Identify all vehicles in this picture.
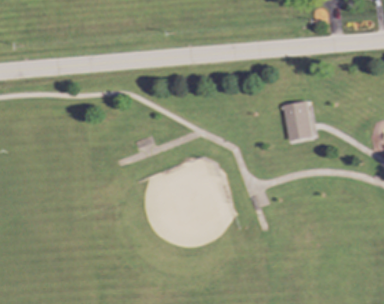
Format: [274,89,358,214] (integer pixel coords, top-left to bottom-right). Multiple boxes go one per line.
[376,0,382,6]
[335,8,340,19]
